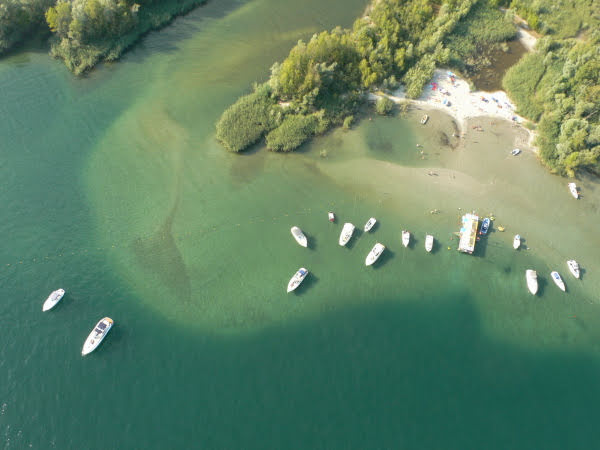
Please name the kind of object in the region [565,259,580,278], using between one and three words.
boat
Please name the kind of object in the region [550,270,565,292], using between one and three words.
boat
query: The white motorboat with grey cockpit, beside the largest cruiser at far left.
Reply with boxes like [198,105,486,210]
[42,288,68,311]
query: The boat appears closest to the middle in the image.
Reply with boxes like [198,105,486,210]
[289,225,308,248]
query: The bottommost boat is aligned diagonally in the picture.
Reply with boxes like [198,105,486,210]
[81,314,117,354]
